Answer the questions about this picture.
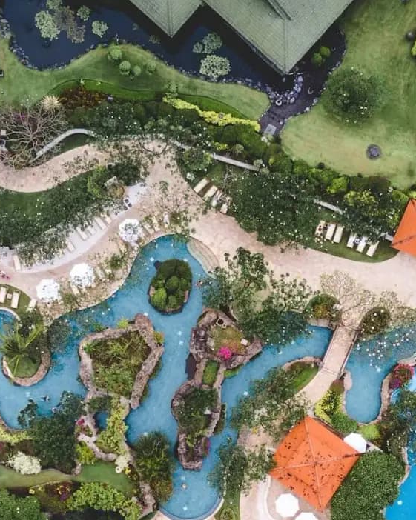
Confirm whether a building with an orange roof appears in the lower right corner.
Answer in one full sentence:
Yes, the scene does show a building with an orange roof in the lower right corner.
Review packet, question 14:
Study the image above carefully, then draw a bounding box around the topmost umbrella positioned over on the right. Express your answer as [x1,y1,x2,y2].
[345,432,366,452]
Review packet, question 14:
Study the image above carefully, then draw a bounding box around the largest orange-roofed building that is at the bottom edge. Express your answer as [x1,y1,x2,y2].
[269,417,362,512]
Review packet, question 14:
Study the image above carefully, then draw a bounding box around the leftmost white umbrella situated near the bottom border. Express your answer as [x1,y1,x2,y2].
[276,495,299,517]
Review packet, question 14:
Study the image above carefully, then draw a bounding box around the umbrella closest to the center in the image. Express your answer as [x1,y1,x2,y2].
[119,220,140,241]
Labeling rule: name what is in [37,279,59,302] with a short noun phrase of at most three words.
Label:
umbrella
